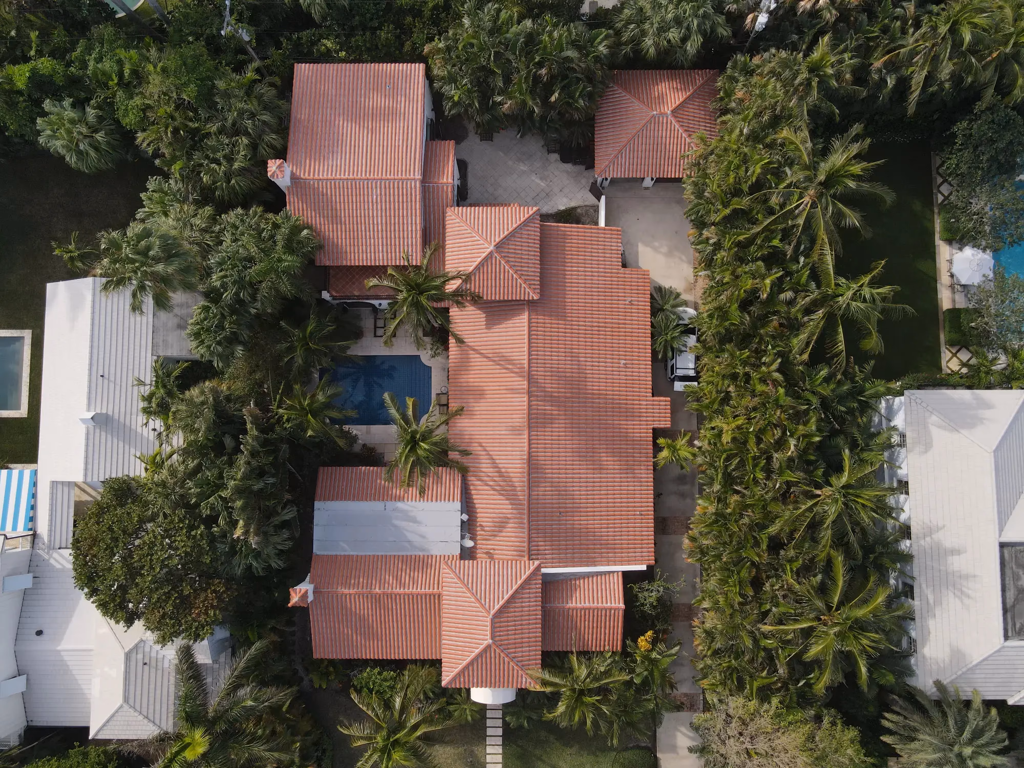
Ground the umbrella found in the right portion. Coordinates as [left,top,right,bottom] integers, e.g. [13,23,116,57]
[946,245,990,288]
